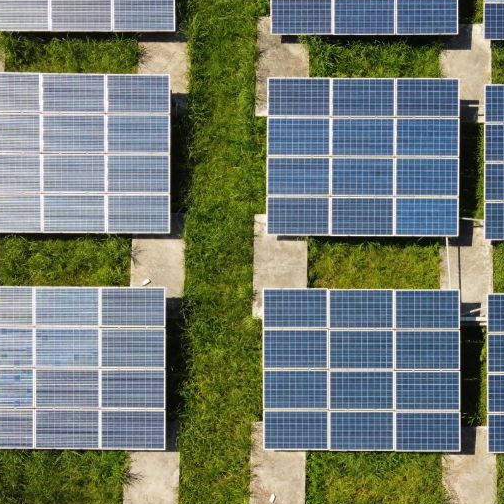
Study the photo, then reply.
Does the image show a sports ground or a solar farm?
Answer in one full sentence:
The picture captures a solar farm.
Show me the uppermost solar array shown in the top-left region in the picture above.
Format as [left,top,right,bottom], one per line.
[0,0,176,35]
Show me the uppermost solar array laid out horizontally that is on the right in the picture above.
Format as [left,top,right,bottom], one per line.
[271,0,459,39]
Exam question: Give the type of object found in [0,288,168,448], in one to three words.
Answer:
solar array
